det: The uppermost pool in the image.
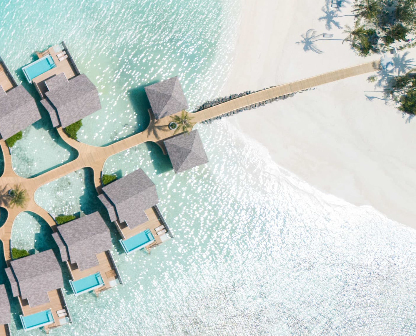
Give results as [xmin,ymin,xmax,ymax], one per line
[21,55,55,85]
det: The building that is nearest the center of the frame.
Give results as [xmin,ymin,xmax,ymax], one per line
[163,129,209,174]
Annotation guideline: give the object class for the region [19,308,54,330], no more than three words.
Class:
swimming pool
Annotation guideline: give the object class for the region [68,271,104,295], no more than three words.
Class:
swimming pool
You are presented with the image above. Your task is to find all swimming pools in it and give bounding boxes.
[117,228,153,254]
[21,55,55,85]
[68,271,104,295]
[19,308,54,330]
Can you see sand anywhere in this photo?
Yes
